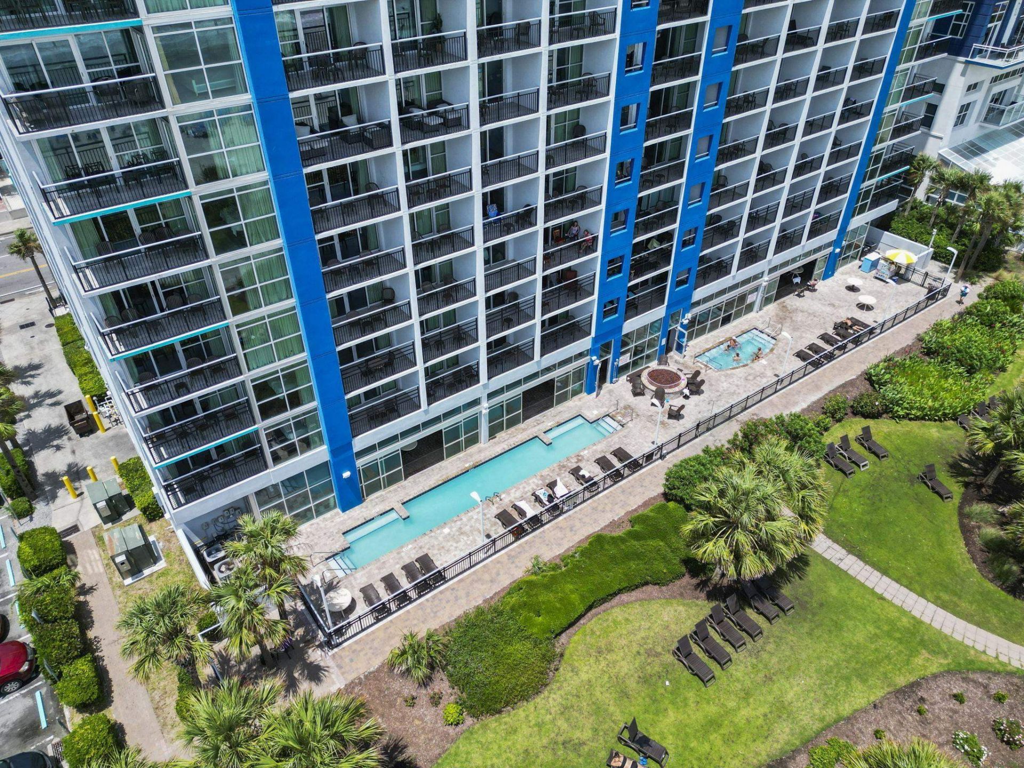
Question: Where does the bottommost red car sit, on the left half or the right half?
left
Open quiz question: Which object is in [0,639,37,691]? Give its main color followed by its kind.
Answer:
red car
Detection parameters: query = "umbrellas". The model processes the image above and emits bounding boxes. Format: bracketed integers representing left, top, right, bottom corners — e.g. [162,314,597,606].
[885,248,919,266]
